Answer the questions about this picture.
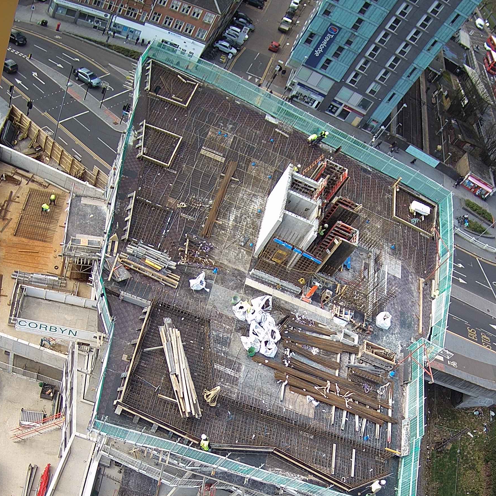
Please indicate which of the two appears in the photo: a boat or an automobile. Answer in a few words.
automobile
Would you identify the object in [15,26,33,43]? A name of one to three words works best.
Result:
car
